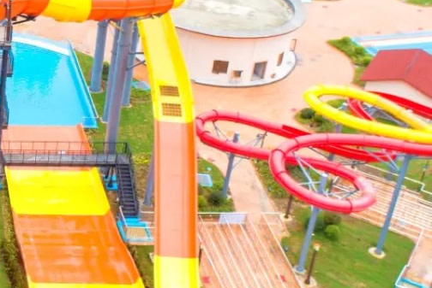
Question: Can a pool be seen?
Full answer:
Yes, a pool is visible in the scene.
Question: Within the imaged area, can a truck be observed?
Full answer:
No, this view has no truck in it.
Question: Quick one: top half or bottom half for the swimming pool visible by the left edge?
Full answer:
Seen from above, the swimming pool visible by the left edge lies in the top half of the view.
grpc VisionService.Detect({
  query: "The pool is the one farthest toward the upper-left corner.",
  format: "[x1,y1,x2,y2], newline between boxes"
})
[2,40,95,130]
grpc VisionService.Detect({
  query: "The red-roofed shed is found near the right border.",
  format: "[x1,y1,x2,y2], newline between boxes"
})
[367,39,432,119]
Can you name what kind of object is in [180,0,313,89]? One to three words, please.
building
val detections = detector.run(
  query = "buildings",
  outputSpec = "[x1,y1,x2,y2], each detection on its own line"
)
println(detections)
[180,0,313,89]
[367,39,432,119]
